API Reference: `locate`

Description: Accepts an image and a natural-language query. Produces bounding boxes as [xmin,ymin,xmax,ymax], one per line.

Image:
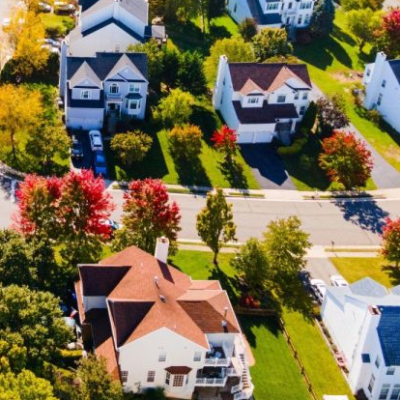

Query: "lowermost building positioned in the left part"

[59,241,248,400]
